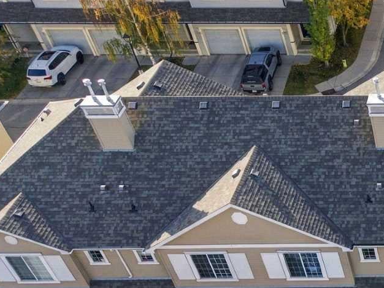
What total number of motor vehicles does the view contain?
two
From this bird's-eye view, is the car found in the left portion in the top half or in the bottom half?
top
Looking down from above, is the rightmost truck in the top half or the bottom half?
top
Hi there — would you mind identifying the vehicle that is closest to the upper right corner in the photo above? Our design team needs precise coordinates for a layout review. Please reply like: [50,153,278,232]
[239,48,281,94]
